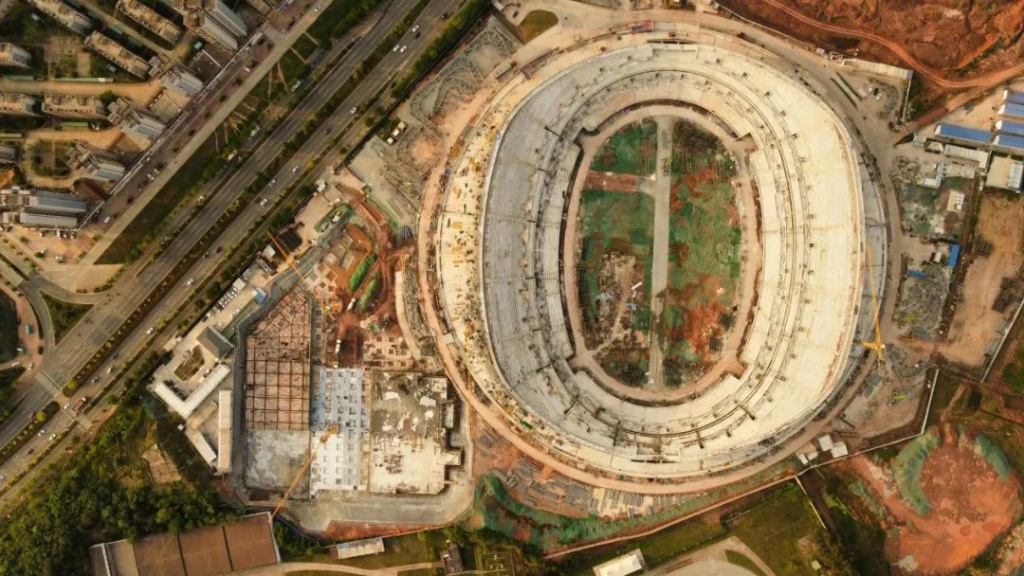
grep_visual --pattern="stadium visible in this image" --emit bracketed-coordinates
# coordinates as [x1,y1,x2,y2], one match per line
[440,22,887,477]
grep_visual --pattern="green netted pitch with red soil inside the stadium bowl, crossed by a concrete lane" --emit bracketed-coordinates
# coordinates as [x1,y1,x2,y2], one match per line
[578,114,744,391]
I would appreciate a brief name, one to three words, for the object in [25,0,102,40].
building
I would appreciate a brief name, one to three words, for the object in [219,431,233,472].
house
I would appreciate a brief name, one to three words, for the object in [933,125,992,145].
shed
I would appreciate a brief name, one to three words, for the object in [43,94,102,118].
building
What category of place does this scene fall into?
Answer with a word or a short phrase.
sports ground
